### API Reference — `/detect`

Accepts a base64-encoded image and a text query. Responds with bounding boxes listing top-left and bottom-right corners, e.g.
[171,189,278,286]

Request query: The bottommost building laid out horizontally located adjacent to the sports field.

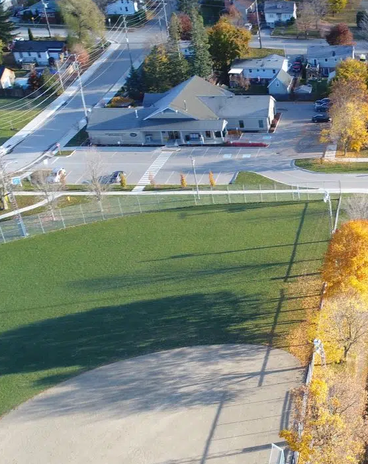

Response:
[80,75,281,153]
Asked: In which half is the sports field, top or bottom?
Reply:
bottom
